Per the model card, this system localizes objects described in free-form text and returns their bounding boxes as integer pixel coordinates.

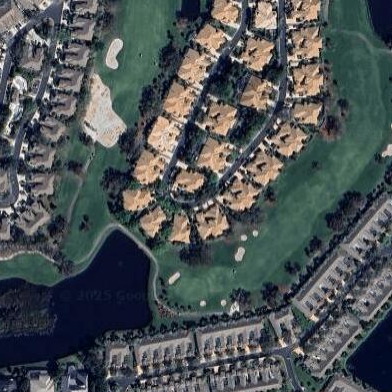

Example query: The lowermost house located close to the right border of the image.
[332,363,384,392]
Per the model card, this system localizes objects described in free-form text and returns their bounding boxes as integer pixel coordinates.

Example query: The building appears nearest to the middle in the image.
[175,165,202,197]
